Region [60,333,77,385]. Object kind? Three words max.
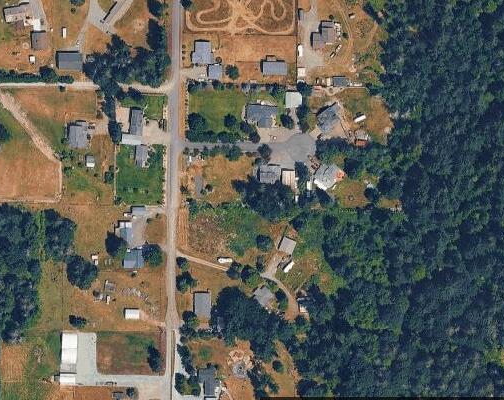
house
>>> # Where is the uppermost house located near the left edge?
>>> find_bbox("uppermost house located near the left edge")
[4,4,32,29]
